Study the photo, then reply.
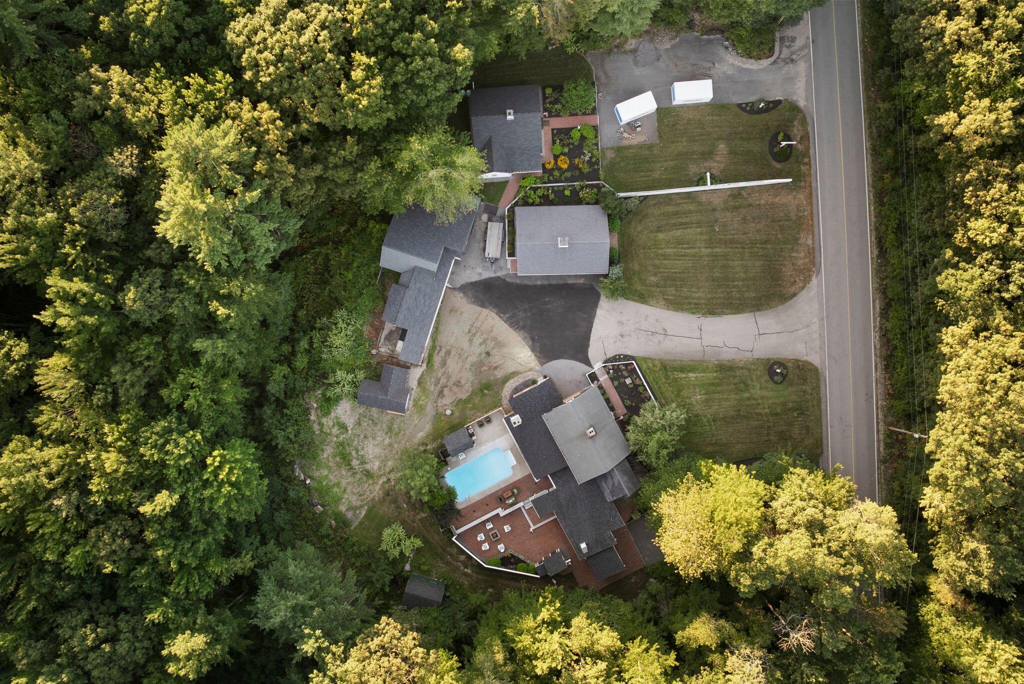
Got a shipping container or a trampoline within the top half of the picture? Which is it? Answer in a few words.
shipping container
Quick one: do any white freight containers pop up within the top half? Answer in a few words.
Yes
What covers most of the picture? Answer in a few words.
trees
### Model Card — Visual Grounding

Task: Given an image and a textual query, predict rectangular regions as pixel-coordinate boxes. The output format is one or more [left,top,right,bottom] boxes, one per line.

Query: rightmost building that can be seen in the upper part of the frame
[516,205,610,276]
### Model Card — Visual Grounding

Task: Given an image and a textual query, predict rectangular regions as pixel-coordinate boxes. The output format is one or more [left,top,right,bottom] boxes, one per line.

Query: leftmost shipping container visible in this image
[617,87,658,122]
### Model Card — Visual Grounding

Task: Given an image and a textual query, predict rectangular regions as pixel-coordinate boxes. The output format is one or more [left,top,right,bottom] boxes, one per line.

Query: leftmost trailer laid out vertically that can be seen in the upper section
[483,217,506,265]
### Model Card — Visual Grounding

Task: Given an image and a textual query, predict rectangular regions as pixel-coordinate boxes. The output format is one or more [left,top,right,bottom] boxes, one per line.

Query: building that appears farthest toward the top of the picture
[471,85,545,182]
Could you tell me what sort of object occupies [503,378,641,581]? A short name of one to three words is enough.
house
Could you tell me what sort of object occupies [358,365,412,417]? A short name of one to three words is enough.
shed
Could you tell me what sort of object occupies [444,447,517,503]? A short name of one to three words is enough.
swimming pool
